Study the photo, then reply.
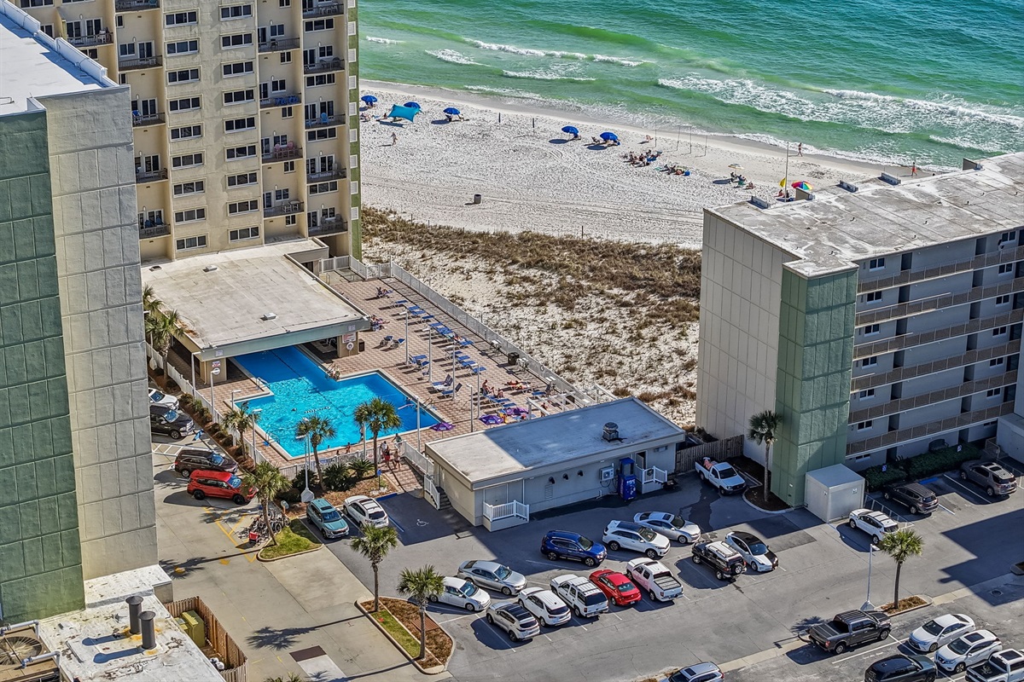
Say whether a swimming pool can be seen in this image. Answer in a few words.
Yes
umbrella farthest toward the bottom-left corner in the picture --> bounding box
[431,416,455,428]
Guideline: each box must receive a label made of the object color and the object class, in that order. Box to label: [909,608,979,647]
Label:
white car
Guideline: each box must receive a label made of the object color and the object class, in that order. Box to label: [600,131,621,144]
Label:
blue umbrella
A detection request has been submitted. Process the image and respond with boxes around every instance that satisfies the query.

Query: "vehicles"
[878,479,940,515]
[815,611,898,656]
[550,573,609,619]
[655,664,723,682]
[537,528,609,566]
[515,586,572,628]
[692,457,749,493]
[589,568,640,607]
[149,409,192,442]
[599,519,672,558]
[909,608,979,647]
[856,647,938,682]
[188,470,260,503]
[623,556,682,602]
[305,497,350,538]
[424,575,493,610]
[632,508,701,540]
[173,446,241,476]
[147,380,187,411]
[342,491,390,527]
[483,601,544,644]
[951,458,1017,496]
[959,645,1024,682]
[843,507,902,542]
[934,625,1008,669]
[460,559,532,593]
[723,528,775,568]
